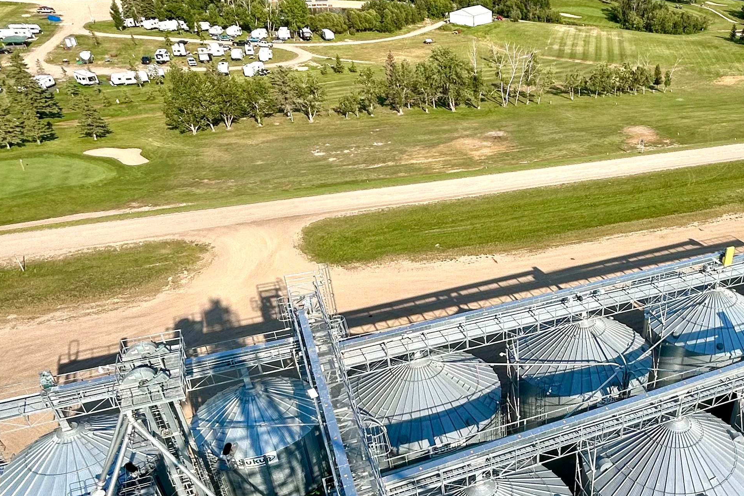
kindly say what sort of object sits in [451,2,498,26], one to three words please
shed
